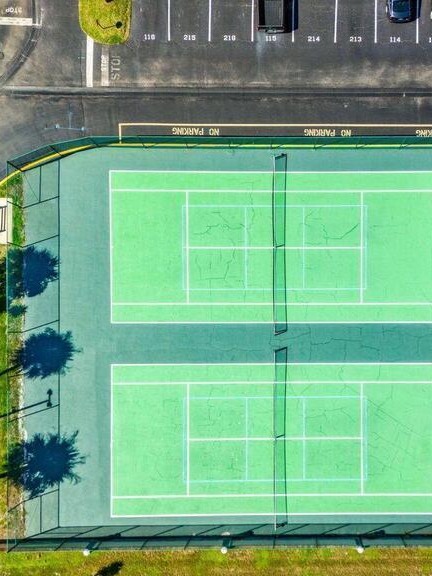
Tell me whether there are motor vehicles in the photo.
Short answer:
Yes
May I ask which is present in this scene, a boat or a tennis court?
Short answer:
tennis court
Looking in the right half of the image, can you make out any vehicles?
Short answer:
Yes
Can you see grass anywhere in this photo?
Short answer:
Yes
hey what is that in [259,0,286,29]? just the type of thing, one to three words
truck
